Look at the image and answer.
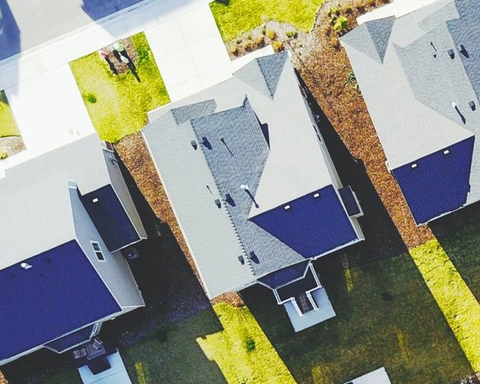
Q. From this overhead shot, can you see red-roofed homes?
No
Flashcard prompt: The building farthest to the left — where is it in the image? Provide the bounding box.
[0,129,146,366]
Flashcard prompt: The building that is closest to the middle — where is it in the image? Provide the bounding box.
[140,51,364,300]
